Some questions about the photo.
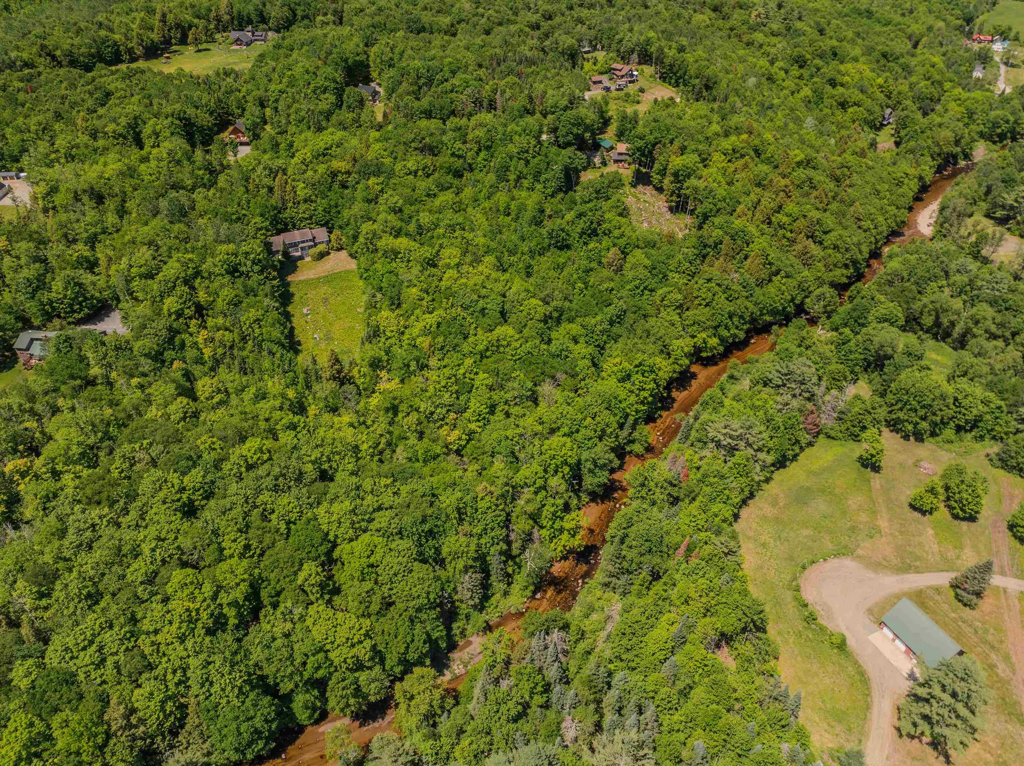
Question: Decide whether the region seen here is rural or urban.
rural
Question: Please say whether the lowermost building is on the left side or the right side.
right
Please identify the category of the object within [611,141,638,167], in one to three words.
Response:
building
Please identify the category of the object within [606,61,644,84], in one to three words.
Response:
house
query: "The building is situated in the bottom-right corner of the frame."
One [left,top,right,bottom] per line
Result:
[880,598,970,678]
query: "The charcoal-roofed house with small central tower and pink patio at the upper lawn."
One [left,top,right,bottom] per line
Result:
[226,19,271,50]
